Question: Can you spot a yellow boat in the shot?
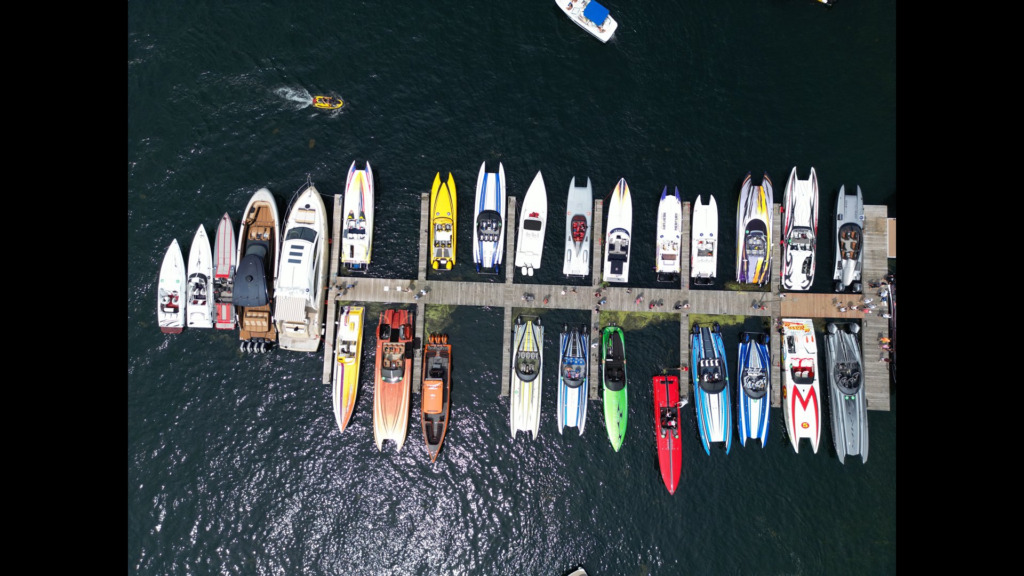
Yes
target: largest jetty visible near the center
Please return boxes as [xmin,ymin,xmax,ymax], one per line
[324,193,890,410]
